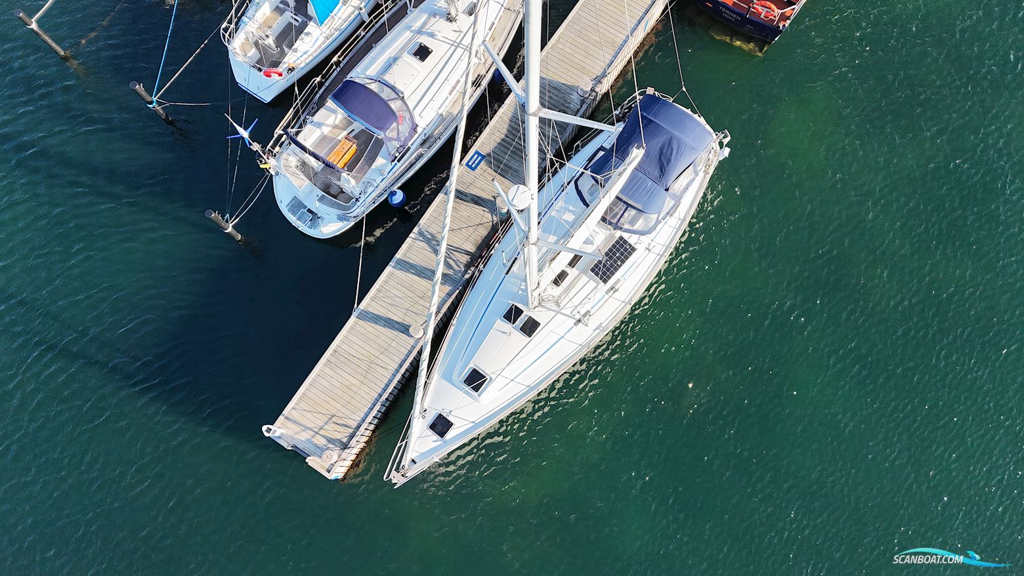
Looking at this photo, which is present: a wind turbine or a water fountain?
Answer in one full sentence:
The one in the frame is a wind turbine.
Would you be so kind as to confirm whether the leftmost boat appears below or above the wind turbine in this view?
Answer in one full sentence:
Looking at the scene, the leftmost boat is located above the wind turbine.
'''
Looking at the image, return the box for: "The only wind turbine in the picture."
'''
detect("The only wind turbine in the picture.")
[219,119,278,184]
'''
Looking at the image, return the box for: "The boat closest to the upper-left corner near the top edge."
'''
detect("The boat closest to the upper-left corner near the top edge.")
[219,0,386,110]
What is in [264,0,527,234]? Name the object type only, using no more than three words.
boat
